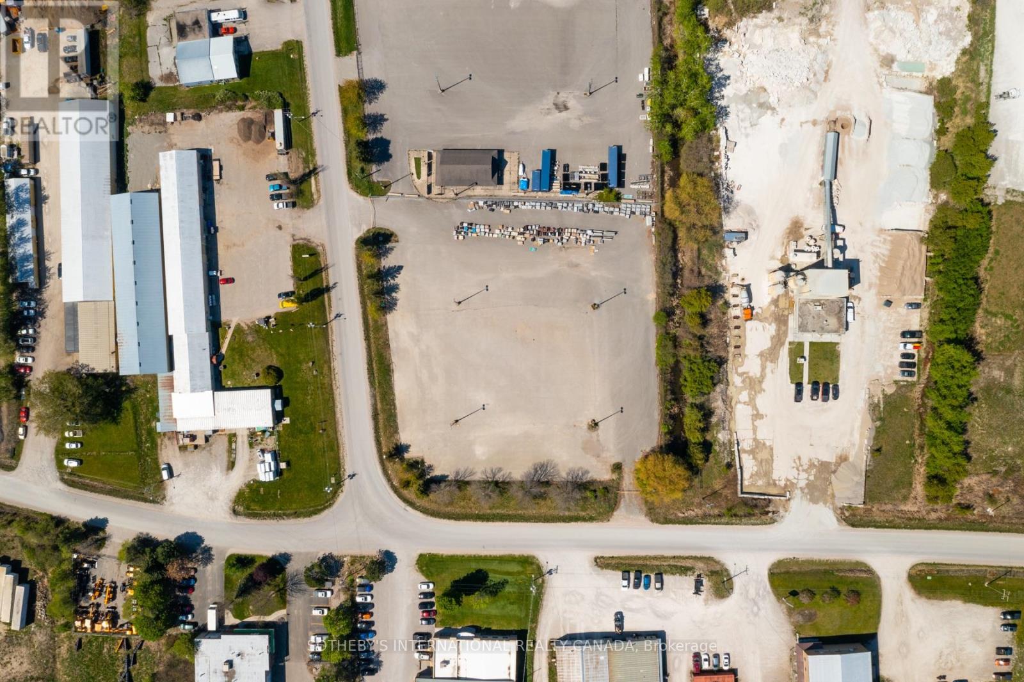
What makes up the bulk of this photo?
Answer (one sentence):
The bulk of the photo consists of paved ground.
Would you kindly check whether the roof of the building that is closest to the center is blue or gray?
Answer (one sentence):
The roof of the building that is closest to the center is gray.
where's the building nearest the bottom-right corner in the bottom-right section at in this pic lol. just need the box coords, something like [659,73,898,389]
[802,644,872,682]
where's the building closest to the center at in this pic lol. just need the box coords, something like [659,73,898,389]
[436,150,497,186]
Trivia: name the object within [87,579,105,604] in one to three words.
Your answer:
work vehicle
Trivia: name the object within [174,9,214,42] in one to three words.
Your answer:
building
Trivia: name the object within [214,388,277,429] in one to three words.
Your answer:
building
